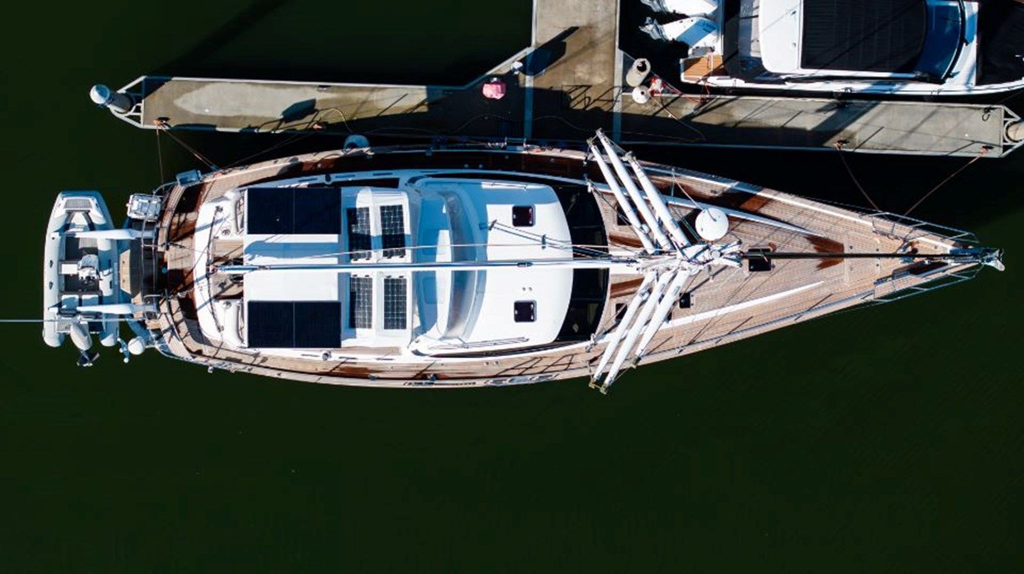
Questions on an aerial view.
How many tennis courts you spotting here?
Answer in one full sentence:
I count no tennis courts.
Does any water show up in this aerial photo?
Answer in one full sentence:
Yes, water can be seen from above here.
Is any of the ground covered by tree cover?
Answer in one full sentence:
No, no tree cover is visible.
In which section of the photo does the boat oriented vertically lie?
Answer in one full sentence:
The boat oriented vertically appears toward the left of the photo.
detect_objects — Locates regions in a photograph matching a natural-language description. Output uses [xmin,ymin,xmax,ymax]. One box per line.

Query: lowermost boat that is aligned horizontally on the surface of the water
[50,124,1005,398]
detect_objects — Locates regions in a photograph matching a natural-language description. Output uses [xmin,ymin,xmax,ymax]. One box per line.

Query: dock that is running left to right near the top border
[111,0,1024,158]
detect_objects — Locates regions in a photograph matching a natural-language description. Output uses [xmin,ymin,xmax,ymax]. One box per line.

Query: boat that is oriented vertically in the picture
[44,189,120,368]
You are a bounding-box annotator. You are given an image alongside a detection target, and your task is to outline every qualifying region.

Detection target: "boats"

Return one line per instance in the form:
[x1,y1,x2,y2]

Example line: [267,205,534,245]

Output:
[44,189,120,368]
[50,124,1005,398]
[644,0,1024,95]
